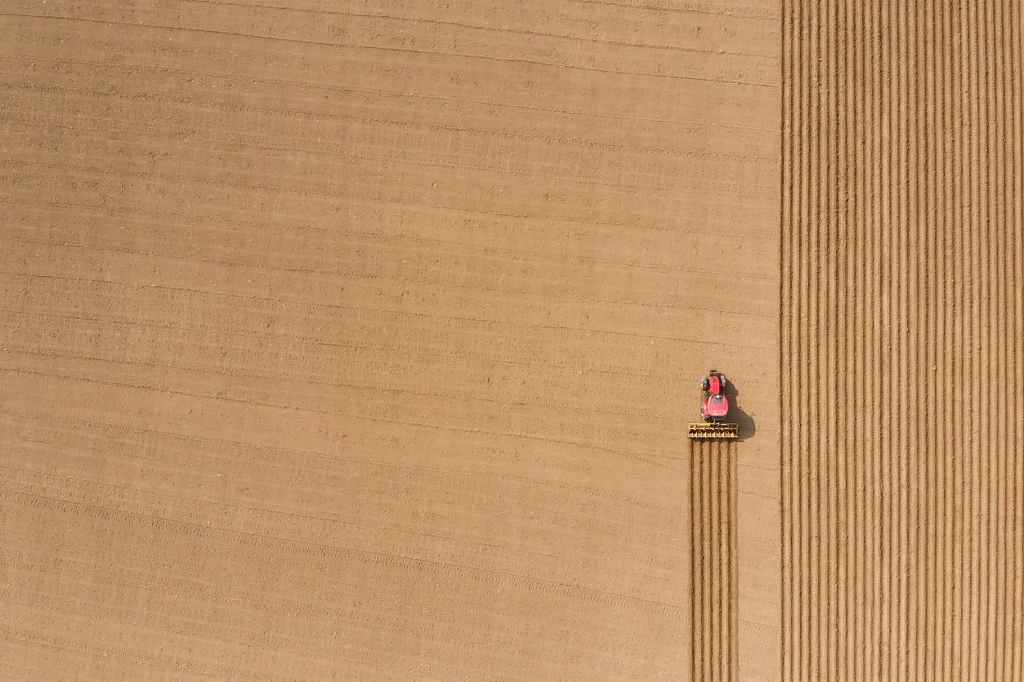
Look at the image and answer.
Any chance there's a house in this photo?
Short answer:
No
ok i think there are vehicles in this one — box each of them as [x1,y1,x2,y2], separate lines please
[699,370,731,423]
